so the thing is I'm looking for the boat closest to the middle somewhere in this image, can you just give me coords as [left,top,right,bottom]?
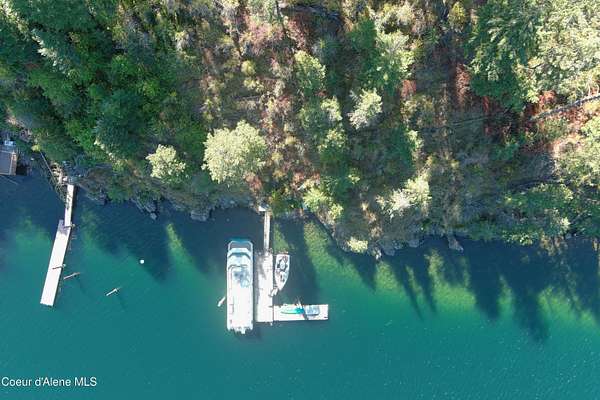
[275,248,291,292]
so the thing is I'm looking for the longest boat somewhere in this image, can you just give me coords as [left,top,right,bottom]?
[227,238,254,338]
